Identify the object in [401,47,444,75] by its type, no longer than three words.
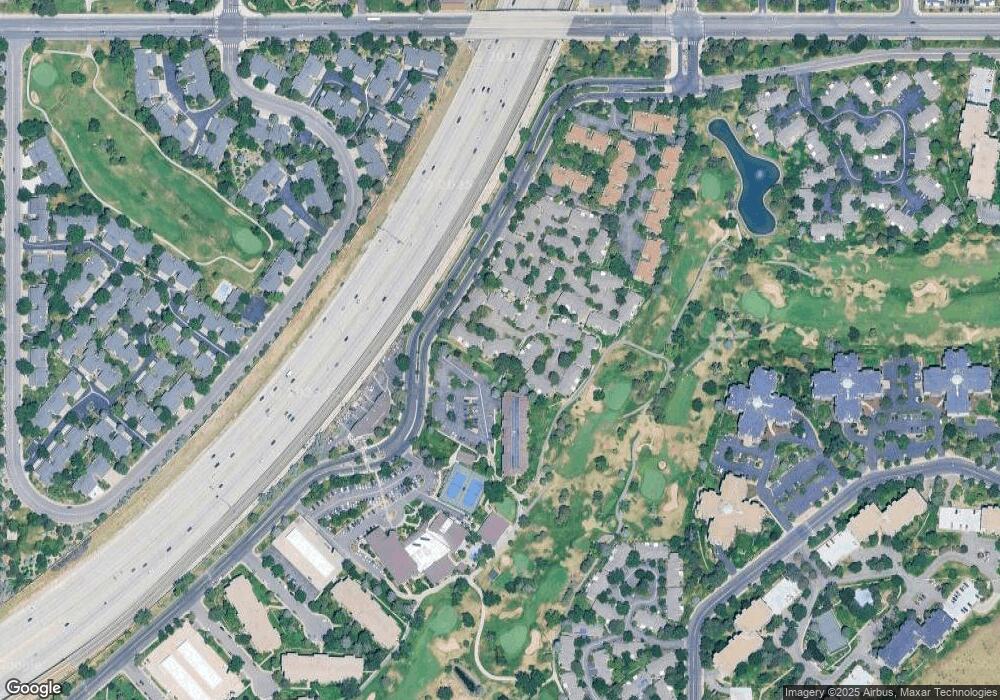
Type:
house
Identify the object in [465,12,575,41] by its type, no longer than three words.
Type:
overpass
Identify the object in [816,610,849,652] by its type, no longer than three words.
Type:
sports court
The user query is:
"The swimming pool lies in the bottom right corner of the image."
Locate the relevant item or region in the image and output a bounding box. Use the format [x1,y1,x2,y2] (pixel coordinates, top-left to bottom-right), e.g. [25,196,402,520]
[855,588,873,606]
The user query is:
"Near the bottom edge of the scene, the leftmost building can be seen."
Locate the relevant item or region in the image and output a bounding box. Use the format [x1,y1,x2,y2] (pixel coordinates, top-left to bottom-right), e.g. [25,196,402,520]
[143,622,245,700]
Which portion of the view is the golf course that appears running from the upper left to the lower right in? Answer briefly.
top left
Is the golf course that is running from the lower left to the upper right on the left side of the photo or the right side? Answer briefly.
right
